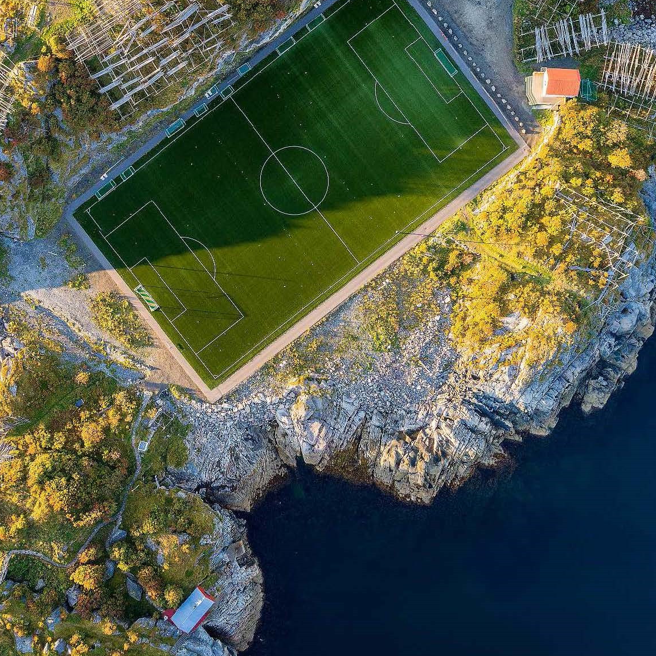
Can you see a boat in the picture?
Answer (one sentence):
No, I can see no boat in this picture.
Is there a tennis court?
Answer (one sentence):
No, the scene contains no tennis court.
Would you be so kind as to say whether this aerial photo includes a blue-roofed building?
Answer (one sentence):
Yes, a blue-roofed building is visible in the scene.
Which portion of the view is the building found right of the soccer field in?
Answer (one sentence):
The building found right of the soccer field appears toward the top right of the photo.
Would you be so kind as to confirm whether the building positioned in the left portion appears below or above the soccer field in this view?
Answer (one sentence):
The position of the building positioned in the left portion is below the soccer field.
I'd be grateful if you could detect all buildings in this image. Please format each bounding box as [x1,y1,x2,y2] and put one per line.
[168,583,214,630]
[526,68,582,109]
